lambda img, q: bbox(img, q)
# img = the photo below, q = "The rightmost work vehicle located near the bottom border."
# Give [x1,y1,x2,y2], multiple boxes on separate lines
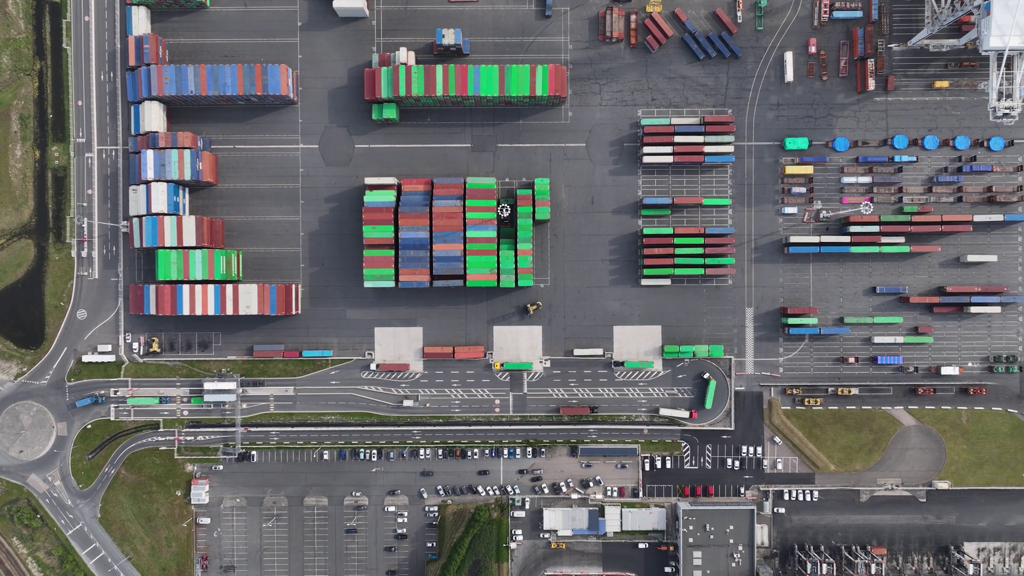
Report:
[951,546,986,576]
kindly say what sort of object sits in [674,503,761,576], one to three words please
building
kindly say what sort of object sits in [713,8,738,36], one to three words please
shipping container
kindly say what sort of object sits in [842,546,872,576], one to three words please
work vehicle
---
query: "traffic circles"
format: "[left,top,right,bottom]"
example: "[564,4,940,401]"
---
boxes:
[0,376,80,485]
